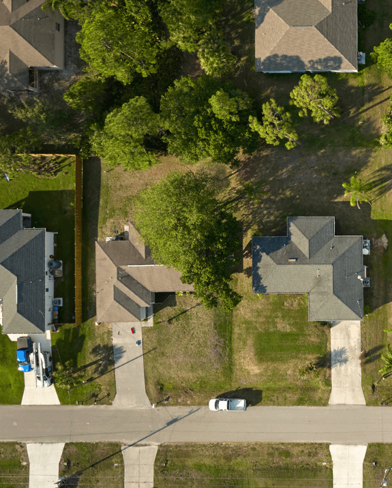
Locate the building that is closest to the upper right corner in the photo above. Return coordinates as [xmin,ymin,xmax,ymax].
[254,0,359,75]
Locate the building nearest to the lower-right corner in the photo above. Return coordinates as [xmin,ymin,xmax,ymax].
[252,216,364,320]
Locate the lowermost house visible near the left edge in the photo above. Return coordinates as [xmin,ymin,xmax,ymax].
[0,209,55,335]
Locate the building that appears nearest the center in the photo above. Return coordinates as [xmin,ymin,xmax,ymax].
[94,219,192,323]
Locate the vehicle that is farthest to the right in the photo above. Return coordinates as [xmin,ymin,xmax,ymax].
[209,398,247,412]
